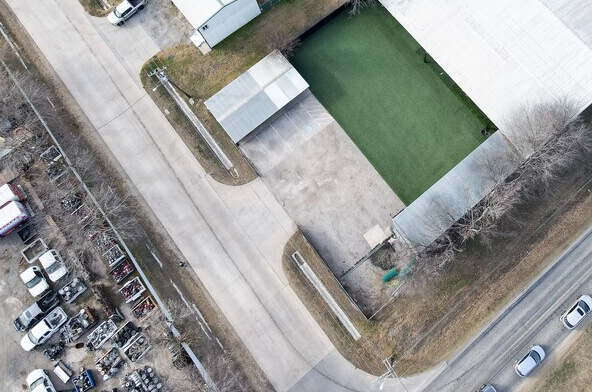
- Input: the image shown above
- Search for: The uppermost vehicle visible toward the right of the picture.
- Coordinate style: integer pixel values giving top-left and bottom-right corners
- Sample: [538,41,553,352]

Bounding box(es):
[557,291,592,333]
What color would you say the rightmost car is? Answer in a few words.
white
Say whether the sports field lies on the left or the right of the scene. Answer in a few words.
right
